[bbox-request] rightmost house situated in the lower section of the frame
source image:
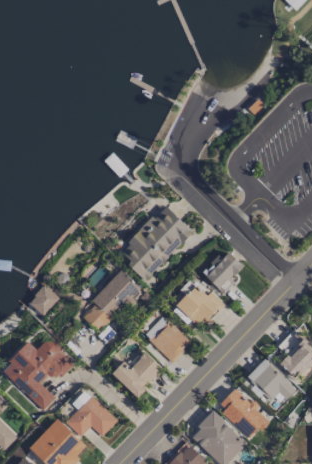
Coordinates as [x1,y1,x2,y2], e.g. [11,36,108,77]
[280,334,312,376]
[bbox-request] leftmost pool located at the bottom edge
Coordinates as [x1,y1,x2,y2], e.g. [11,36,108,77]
[241,451,256,464]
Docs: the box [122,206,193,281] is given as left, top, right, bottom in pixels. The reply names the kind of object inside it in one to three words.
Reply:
house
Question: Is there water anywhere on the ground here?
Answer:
Yes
